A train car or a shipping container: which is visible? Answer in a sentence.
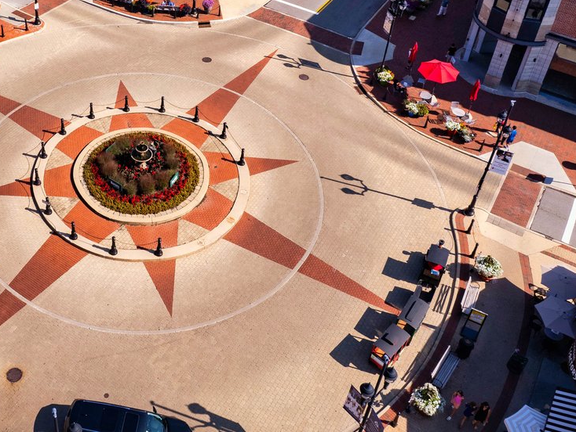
I can see a train car in this picture.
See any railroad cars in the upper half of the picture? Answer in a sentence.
No, no railroad car appears in the upper half of the picture.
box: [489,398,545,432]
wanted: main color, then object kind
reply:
blue umbrella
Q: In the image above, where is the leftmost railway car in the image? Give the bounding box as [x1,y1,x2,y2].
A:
[366,324,410,378]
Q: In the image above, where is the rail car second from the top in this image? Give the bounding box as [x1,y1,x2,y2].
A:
[396,296,429,349]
